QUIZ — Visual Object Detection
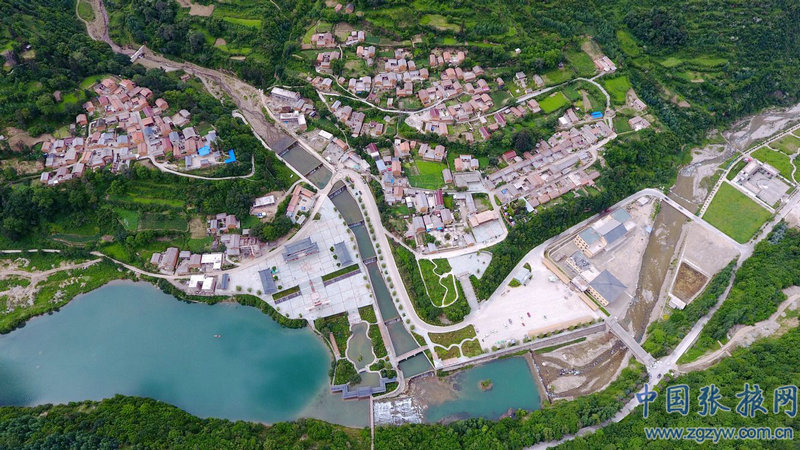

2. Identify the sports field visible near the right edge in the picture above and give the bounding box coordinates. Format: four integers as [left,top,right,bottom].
[703,184,770,242]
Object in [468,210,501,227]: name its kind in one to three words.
house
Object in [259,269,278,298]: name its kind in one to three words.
building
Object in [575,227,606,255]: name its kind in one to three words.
building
